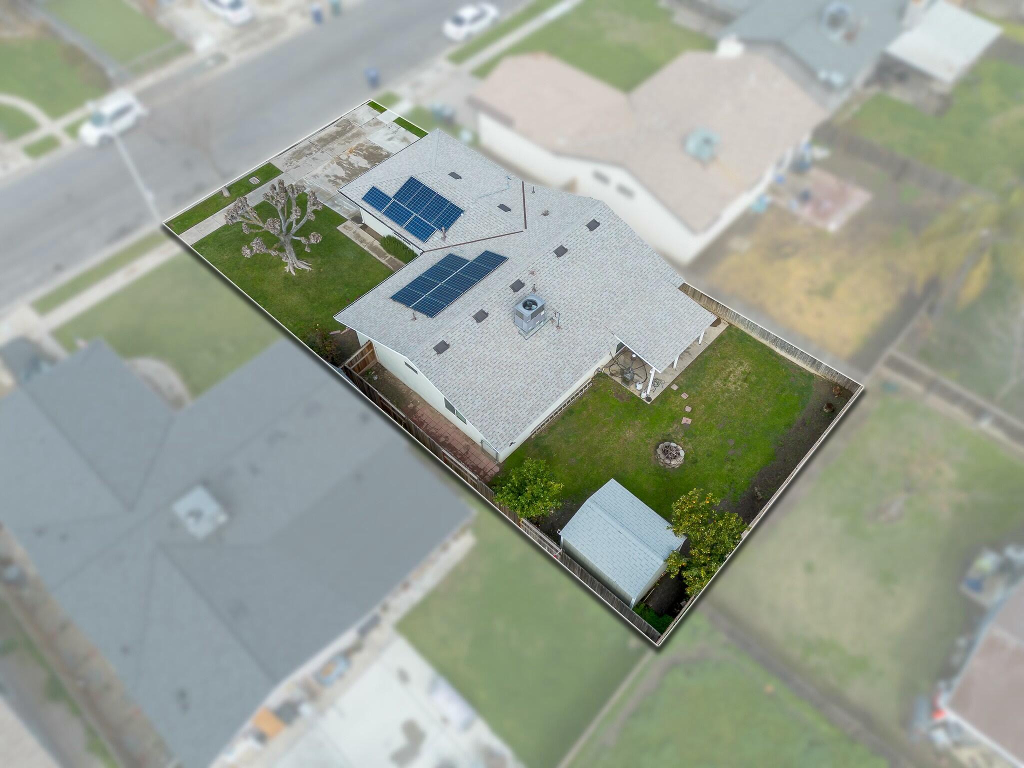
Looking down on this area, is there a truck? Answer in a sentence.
No, there isn't any truck down there.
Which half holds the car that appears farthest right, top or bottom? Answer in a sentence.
The top half of the photo is where the car that appears farthest right is.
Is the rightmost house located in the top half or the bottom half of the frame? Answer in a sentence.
It is in the bottom half that the rightmost house appears.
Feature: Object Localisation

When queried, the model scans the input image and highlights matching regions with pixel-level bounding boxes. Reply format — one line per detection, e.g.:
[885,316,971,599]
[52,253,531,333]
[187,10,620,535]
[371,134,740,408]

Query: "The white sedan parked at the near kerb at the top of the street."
[442,6,499,45]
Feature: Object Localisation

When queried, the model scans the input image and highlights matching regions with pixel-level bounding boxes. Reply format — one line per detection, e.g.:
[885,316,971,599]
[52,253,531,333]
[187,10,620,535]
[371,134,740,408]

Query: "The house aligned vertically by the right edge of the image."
[932,557,1024,768]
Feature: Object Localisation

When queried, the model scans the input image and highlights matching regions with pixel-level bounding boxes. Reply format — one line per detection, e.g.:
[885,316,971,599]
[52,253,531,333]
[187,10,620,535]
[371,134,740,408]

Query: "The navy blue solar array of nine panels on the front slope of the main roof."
[390,250,507,317]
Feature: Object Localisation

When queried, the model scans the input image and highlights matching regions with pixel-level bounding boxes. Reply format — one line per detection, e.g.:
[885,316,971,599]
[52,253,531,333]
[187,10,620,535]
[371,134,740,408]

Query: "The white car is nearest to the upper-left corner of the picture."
[75,93,157,151]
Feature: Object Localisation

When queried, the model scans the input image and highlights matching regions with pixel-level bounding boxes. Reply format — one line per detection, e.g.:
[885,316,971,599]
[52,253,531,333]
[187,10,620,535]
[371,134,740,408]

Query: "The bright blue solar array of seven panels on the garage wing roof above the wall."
[361,176,464,243]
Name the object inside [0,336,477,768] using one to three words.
house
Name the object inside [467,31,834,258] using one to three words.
house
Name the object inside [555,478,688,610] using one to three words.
shed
